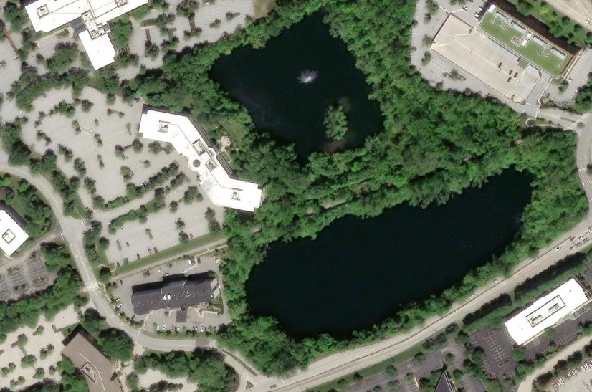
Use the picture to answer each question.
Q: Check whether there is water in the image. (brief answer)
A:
Yes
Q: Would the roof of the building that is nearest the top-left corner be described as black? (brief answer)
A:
No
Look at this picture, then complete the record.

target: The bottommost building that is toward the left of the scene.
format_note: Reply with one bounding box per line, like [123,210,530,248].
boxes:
[62,333,124,392]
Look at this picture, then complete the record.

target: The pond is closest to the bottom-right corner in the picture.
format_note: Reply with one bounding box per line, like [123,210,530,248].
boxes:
[248,169,532,339]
